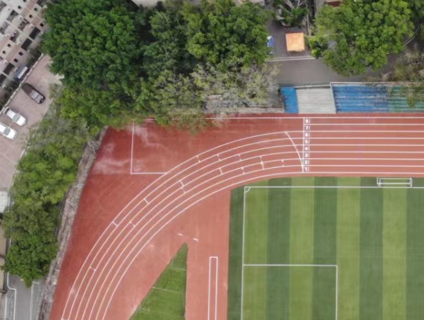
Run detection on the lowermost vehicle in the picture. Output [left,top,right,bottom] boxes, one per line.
[0,121,19,139]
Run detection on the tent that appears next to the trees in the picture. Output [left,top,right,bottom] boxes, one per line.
[286,32,306,55]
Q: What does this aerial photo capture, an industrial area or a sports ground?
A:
sports ground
